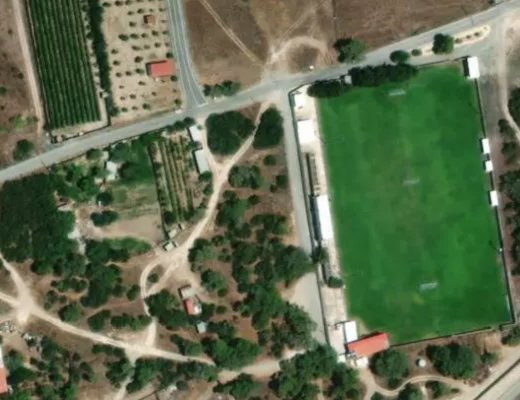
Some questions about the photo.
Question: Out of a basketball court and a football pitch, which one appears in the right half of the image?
football pitch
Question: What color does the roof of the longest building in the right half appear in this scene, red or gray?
red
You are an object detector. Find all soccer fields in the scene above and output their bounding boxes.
[309,59,513,345]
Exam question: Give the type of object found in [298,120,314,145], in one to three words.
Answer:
building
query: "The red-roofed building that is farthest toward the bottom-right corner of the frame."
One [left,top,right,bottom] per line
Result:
[348,333,389,357]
